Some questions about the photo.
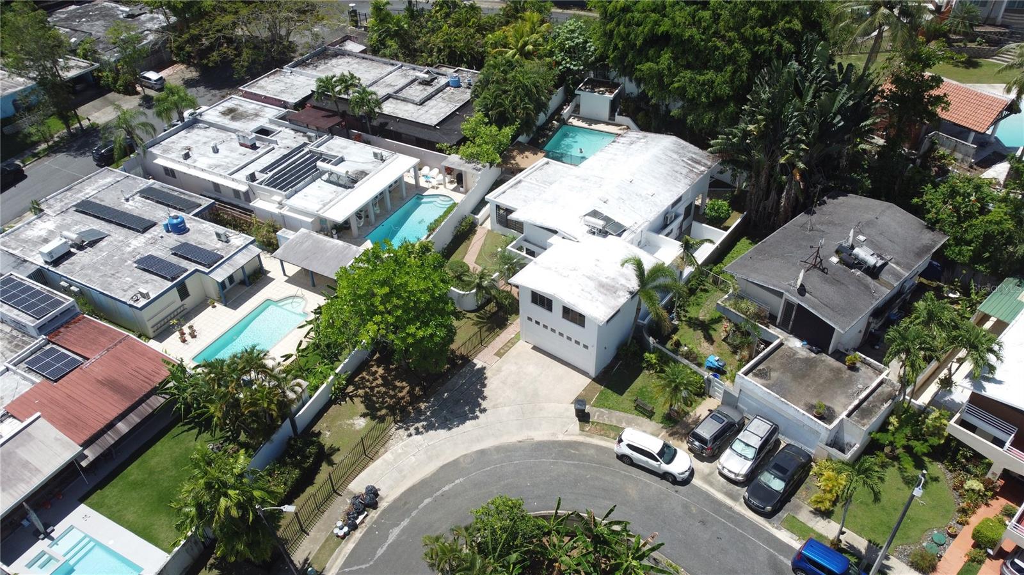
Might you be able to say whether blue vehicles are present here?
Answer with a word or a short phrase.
Yes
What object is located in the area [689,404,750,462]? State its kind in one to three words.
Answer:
car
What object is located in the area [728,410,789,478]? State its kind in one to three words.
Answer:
car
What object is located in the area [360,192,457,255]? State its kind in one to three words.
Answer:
swimming pool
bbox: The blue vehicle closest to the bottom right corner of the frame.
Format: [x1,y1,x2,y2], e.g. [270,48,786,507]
[786,529,866,575]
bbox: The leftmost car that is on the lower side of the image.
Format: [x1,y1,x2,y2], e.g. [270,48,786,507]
[613,428,696,486]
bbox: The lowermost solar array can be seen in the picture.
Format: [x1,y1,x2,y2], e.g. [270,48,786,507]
[24,345,82,382]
